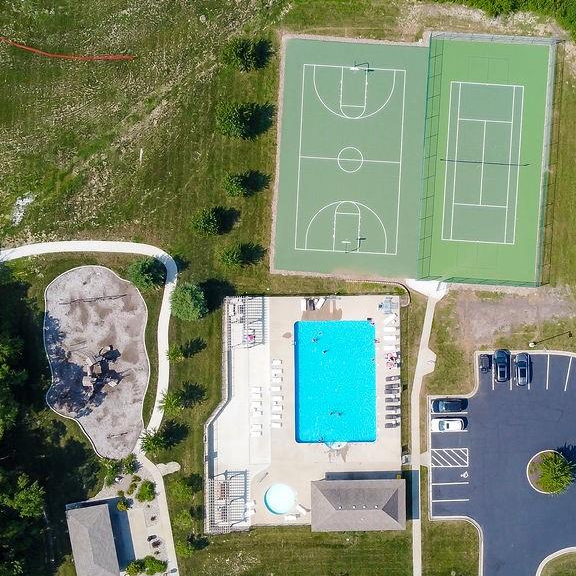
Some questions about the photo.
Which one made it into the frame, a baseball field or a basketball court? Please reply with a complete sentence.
I can see a basketball court in this picture.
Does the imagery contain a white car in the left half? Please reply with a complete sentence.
No, I can find no white car in the left half.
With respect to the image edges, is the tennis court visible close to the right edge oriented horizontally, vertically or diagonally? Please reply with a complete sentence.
In this picture, the tennis court visible close to the right edge is oriented vertically.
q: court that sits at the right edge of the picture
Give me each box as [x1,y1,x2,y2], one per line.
[419,39,552,284]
